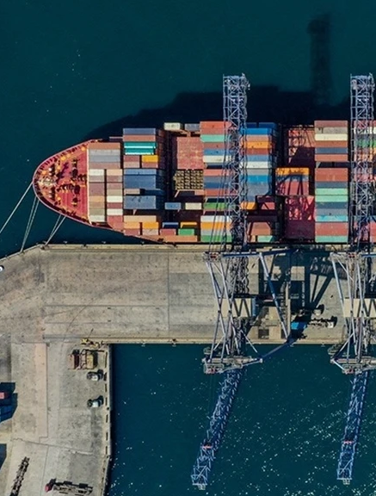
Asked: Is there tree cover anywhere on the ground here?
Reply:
No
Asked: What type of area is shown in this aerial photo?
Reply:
port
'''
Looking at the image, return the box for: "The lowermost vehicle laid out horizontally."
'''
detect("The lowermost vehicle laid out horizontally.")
[42,484,87,496]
